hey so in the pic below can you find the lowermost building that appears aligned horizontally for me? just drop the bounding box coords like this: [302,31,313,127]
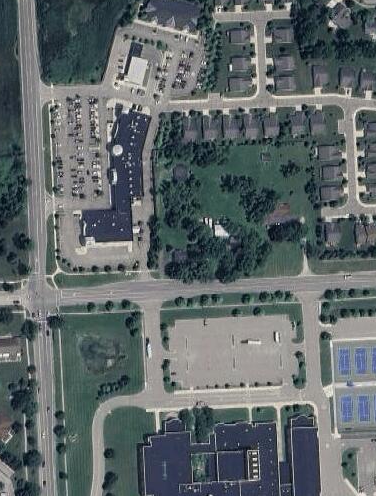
[143,415,320,496]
